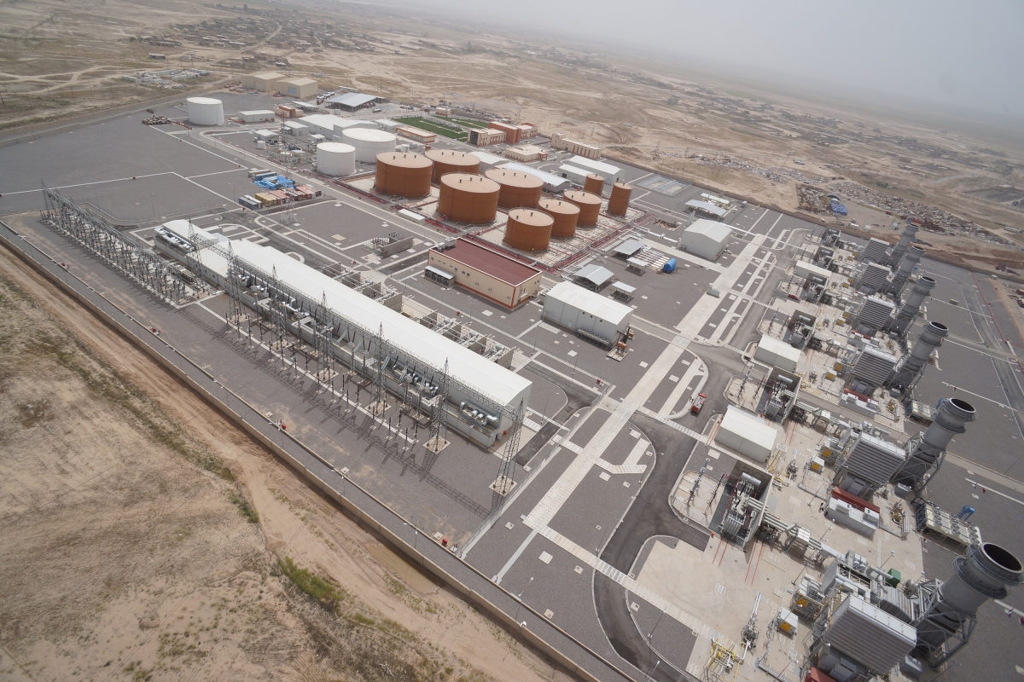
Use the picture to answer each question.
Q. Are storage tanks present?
Yes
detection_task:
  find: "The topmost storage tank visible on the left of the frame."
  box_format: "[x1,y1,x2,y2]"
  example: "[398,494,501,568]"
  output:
[184,96,226,124]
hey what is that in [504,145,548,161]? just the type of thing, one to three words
building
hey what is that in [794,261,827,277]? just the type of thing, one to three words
shed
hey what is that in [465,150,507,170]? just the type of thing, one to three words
shed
